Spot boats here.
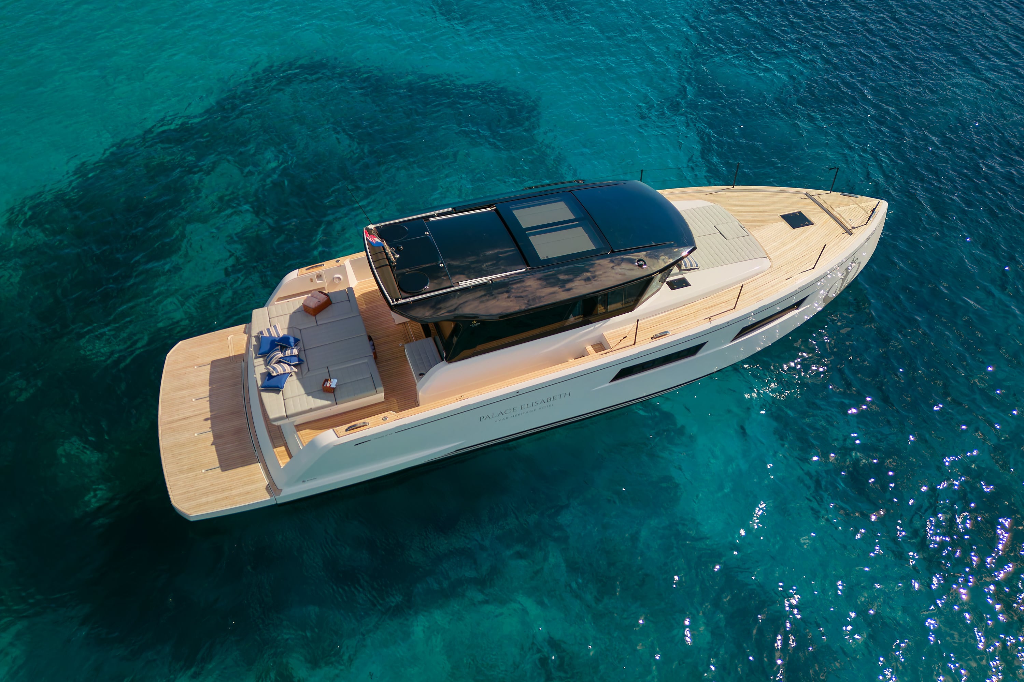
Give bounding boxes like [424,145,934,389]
[160,162,887,518]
